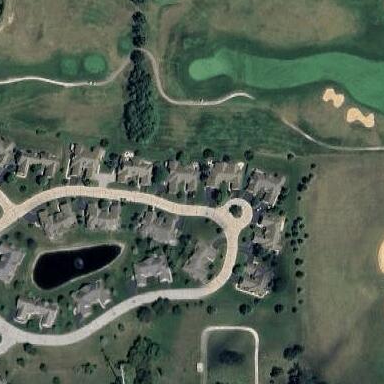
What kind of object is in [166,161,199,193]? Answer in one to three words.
house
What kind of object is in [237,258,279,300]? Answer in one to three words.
house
